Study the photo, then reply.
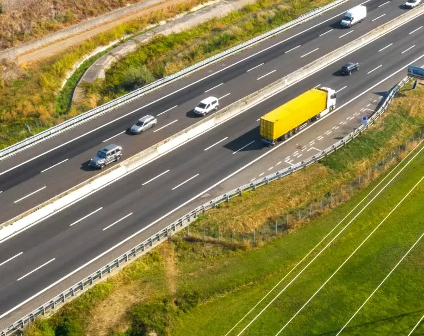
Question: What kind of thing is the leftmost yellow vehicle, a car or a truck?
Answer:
truck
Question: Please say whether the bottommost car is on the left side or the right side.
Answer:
left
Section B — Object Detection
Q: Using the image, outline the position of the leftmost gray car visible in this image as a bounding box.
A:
[89,144,122,169]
